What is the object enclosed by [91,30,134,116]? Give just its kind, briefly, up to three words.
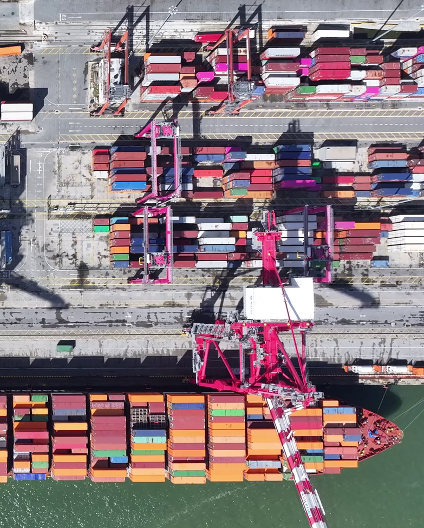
container crane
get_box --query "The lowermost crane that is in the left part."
[128,210,171,284]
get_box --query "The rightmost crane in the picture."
[277,210,332,284]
